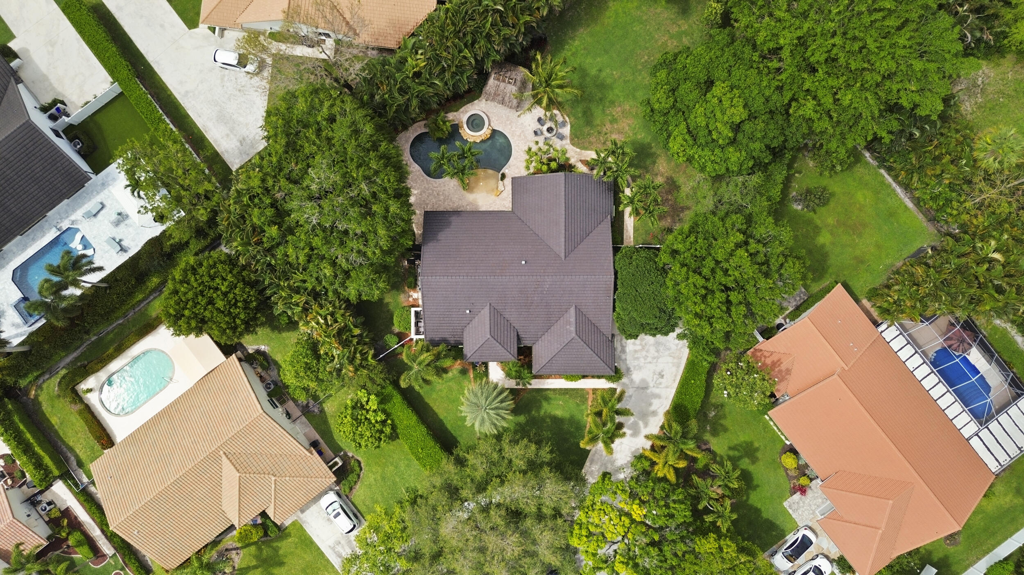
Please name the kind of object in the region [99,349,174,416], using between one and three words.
swimming pool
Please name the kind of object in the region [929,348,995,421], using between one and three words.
swimming pool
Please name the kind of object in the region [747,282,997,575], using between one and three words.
house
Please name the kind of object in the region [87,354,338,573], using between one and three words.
house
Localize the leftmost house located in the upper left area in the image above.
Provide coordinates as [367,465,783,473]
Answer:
[0,42,105,253]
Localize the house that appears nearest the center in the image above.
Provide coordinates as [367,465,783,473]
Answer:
[419,170,616,376]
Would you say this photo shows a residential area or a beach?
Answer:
residential area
